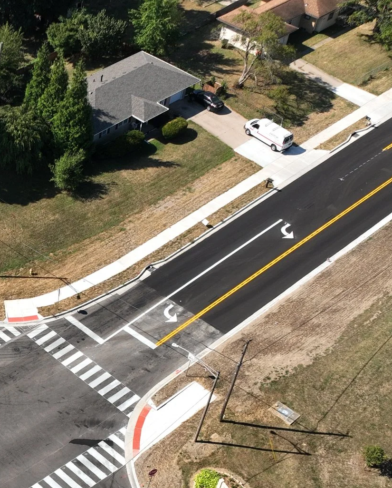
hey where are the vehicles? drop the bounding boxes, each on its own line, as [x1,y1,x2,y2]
[244,121,293,153]
[191,93,224,110]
